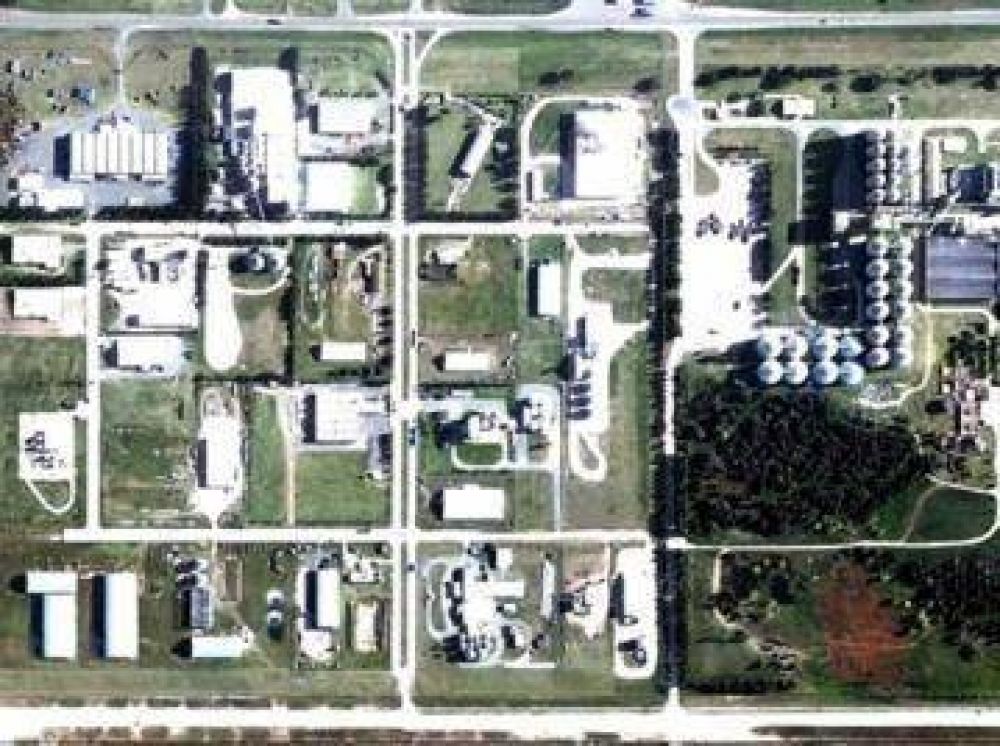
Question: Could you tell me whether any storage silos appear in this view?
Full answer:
Yes, I can see a storage silo in this picture.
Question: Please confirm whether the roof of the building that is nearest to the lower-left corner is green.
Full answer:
No, the color of the roof of the building that is nearest to the lower-left corner is white.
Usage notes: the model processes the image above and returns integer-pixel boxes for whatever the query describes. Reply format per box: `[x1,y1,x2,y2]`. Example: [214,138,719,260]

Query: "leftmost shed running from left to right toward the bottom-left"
[25,573,77,593]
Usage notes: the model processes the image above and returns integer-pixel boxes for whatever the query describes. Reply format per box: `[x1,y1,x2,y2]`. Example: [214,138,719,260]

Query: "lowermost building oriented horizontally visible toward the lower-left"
[190,637,243,658]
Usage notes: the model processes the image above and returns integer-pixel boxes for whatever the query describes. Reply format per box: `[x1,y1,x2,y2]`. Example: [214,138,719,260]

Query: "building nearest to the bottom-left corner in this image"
[43,593,77,658]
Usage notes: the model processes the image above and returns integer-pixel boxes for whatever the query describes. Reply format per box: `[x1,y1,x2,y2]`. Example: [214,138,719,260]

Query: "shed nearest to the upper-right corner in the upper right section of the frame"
[944,137,968,150]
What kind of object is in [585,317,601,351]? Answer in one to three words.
building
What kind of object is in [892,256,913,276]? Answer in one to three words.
silo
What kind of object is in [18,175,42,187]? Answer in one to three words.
shed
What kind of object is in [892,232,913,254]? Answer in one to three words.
silo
